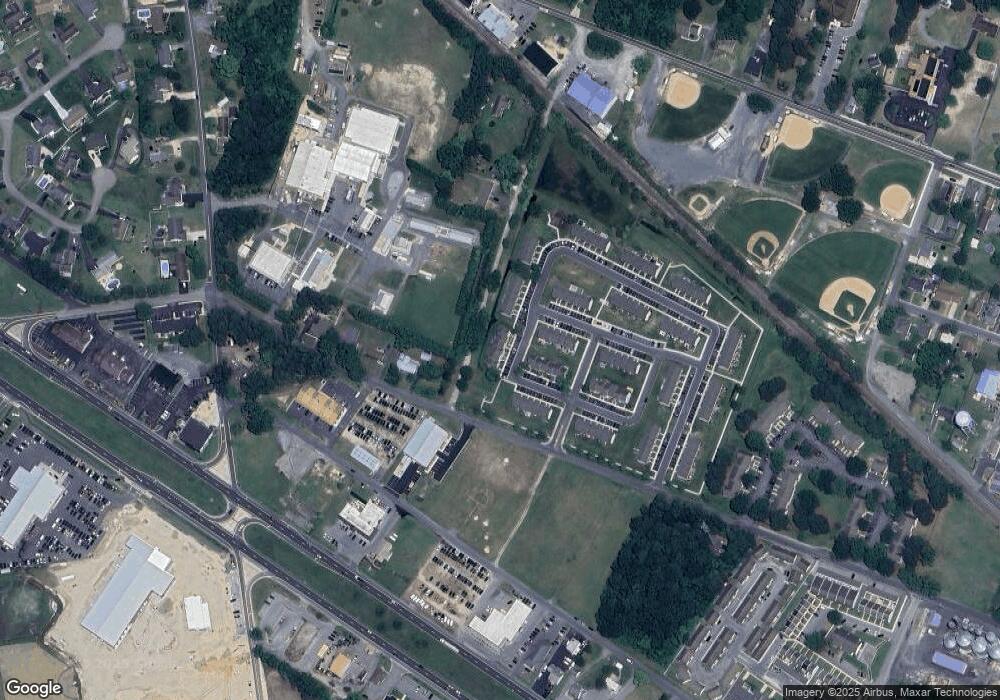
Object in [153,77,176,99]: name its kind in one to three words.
house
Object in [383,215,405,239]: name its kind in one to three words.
building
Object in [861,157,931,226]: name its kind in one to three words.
baseball field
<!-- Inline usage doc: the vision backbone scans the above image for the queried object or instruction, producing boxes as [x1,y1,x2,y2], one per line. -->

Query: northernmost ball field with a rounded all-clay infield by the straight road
[649,66,740,144]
